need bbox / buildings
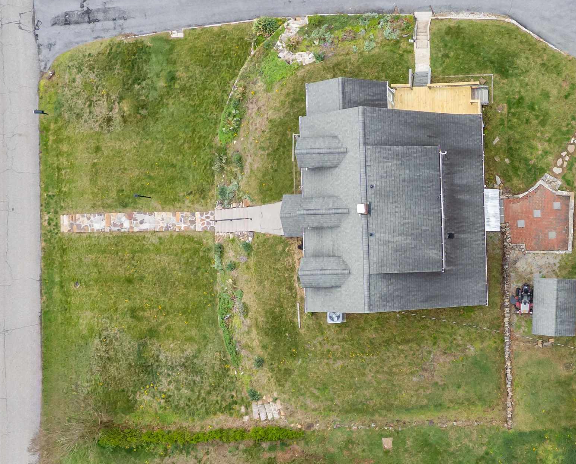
[279,77,501,315]
[532,278,576,337]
